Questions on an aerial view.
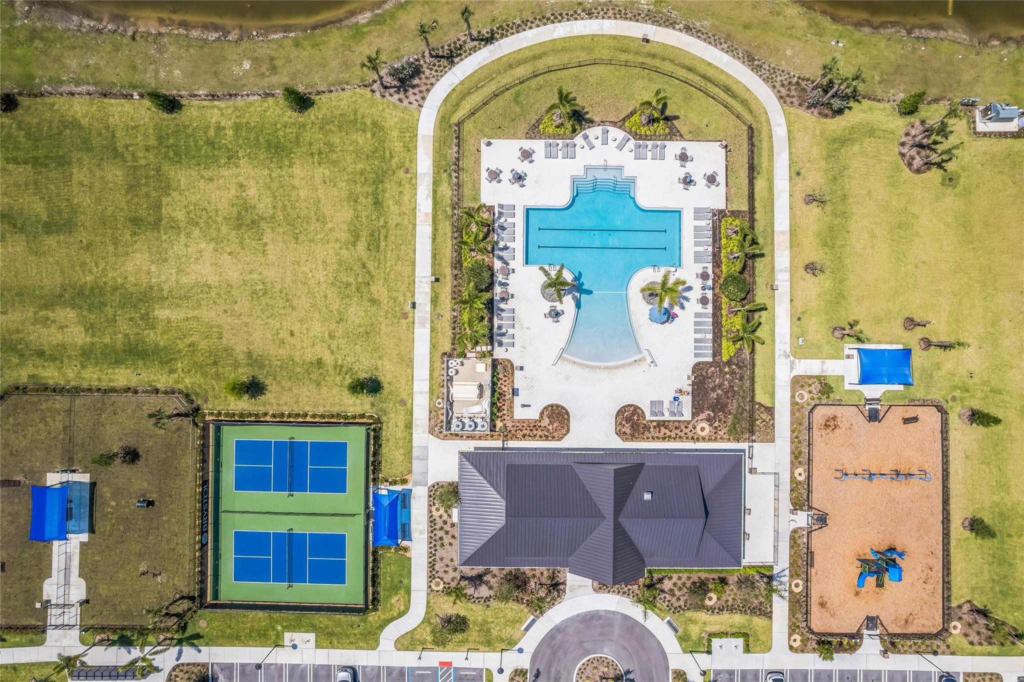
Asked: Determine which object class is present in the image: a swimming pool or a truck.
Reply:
swimming pool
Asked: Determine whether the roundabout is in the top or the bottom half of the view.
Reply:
bottom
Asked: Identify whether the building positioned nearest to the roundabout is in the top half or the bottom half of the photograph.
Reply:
bottom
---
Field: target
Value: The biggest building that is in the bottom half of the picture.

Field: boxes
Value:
[457,450,746,591]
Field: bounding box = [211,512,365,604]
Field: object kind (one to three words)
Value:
sports court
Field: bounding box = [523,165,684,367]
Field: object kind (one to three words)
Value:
swimming pool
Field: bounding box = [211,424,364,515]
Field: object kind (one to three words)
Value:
sports court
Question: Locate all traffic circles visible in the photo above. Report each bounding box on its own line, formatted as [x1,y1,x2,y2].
[530,610,669,682]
